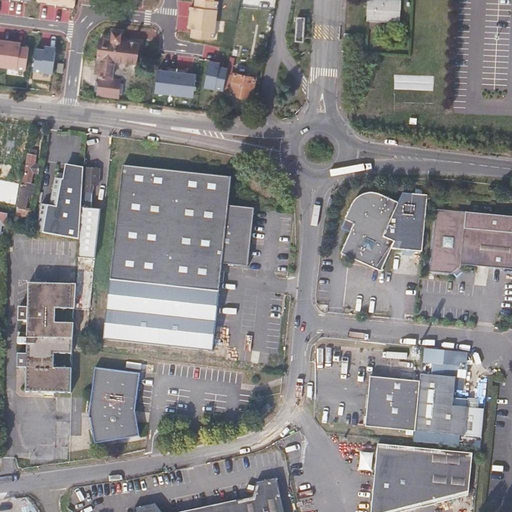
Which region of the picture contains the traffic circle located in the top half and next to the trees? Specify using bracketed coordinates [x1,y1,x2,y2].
[289,118,350,180]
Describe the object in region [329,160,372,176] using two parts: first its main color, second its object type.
white vehicle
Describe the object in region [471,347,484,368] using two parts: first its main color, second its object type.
white vehicle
